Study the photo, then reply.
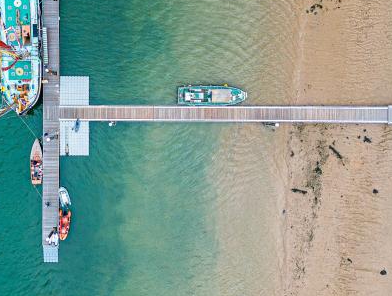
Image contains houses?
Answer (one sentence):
No, the photo shows no house.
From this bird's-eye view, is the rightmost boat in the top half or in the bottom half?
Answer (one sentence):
The rightmost boat is in the top half of the image.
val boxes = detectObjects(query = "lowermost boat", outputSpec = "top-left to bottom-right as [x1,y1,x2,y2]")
[59,209,71,241]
